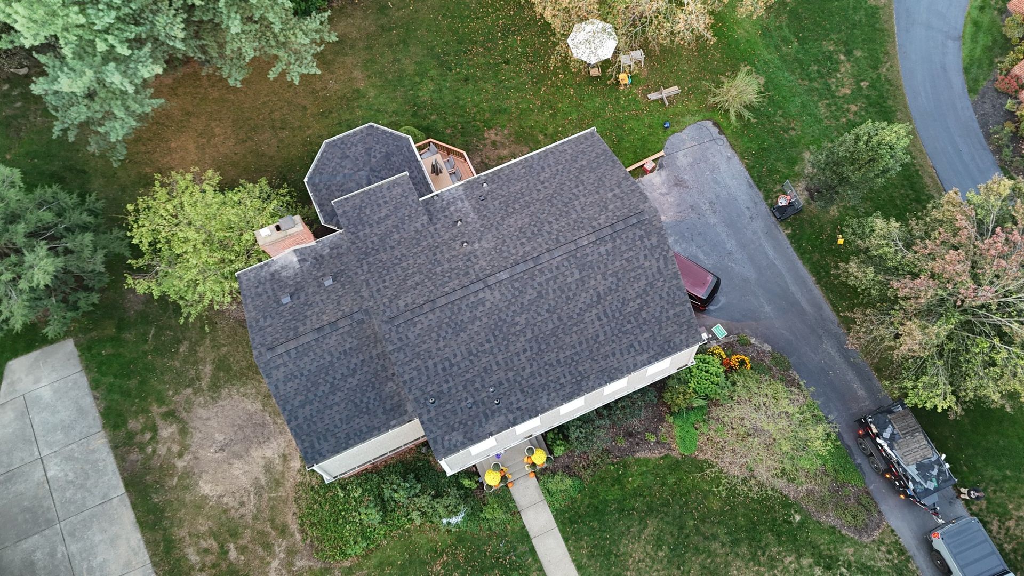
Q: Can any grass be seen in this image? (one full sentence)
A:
Yes, there is grass in the image.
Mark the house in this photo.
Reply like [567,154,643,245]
[232,120,710,484]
